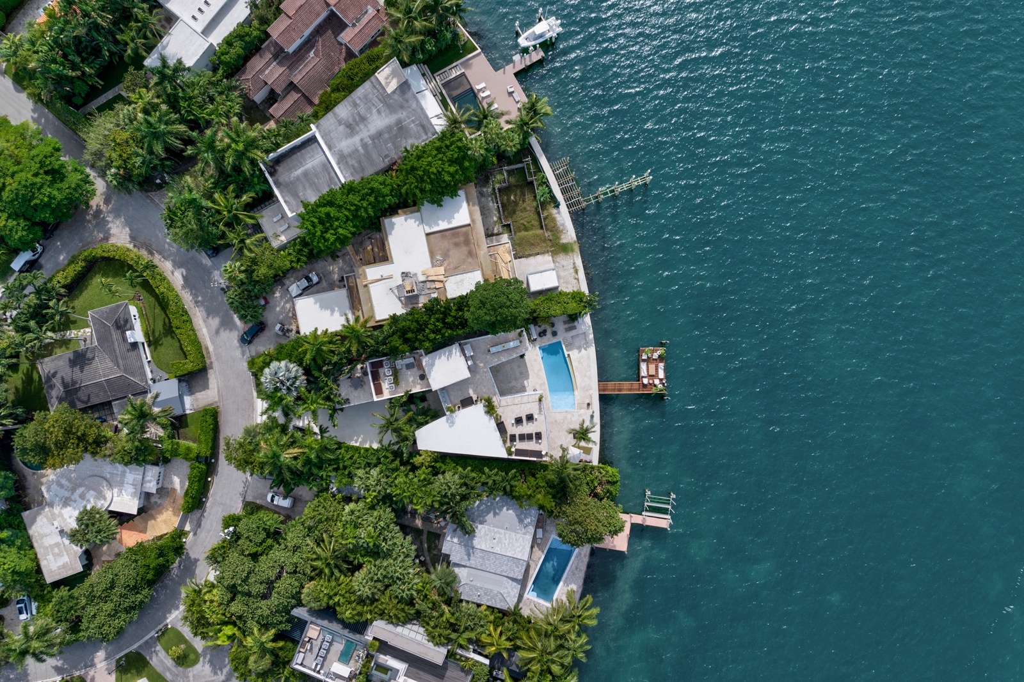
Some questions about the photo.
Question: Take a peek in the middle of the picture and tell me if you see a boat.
No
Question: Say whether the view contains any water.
Yes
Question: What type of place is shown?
residential area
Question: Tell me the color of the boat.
white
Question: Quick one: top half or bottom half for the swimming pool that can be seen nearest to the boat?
top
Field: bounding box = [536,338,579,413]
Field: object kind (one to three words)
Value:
swimming pool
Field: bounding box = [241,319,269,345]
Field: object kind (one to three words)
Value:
car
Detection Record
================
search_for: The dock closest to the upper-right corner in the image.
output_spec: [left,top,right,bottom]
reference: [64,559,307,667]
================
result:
[584,171,653,205]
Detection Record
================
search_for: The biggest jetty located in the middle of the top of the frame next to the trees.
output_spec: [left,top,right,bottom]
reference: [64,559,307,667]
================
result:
[460,50,545,131]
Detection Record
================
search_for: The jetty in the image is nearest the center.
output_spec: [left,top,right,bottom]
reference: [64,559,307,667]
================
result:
[600,347,667,394]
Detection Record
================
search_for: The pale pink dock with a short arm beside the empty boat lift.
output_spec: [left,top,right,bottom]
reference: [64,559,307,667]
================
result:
[592,512,670,552]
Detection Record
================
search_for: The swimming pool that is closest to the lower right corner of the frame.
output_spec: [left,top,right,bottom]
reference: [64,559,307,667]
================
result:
[524,535,579,608]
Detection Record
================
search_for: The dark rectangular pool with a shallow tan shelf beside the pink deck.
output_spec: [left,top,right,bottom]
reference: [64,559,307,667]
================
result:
[437,68,492,133]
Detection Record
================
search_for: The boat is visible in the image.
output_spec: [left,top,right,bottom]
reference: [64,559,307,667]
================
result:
[519,14,565,46]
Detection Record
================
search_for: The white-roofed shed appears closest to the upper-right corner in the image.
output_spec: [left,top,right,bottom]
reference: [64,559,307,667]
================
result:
[527,268,559,294]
